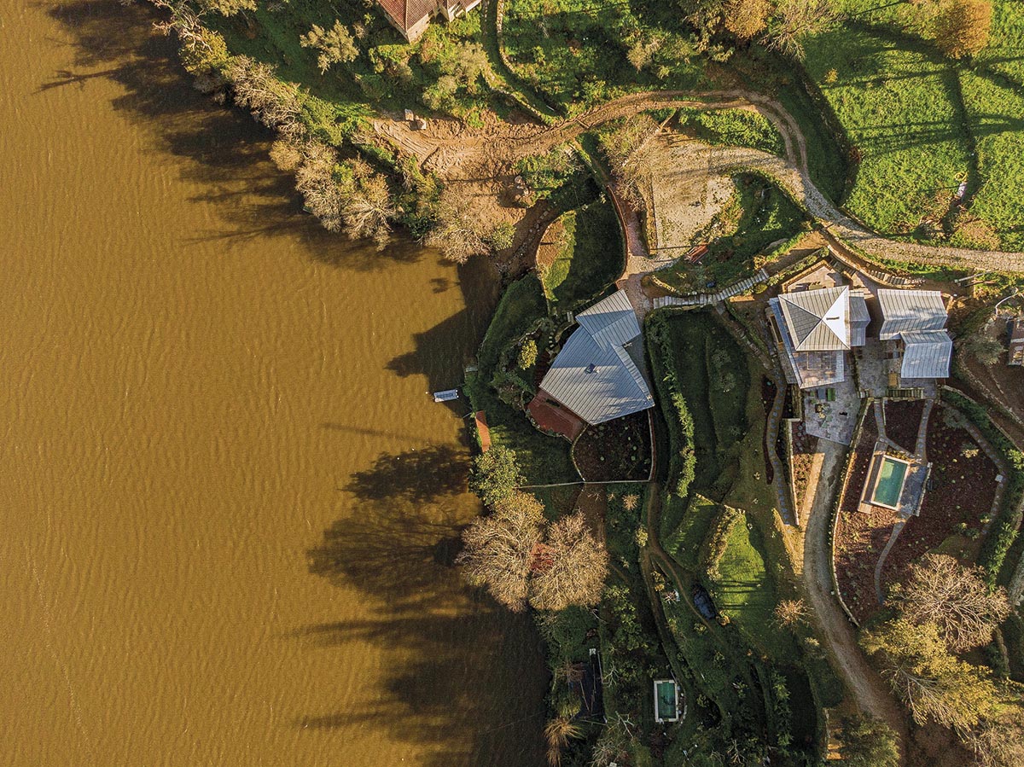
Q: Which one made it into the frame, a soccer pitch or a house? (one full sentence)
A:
I can see a house in this picture.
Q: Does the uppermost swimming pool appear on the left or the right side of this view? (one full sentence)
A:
The uppermost swimming pool sits on the right side.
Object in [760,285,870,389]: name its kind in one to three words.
house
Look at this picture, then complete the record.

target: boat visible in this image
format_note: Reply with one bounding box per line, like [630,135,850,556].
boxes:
[433,389,459,402]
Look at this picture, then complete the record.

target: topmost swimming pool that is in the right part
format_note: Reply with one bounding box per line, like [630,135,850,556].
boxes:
[856,443,910,513]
